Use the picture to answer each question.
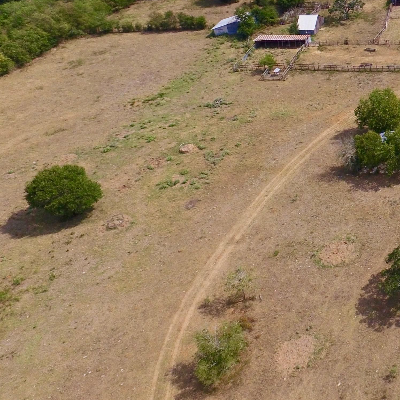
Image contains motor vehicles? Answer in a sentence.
No, no motor vehicle can be seen from above.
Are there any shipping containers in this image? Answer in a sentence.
No, I can't see a single shipping container in this photo.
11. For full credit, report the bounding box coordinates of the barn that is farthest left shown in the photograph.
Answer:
[211,10,264,36]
